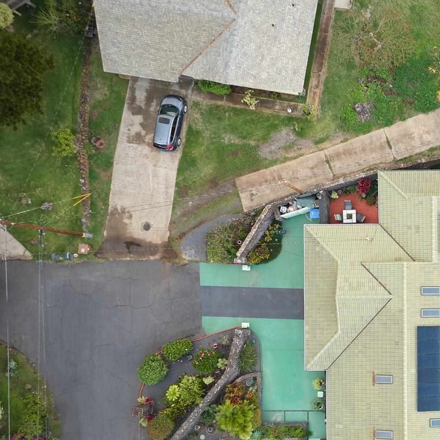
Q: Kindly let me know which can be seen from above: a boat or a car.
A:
car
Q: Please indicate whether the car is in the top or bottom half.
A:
top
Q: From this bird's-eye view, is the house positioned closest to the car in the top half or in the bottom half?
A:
top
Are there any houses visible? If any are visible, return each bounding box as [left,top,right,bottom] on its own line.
[303,170,440,440]
[90,0,319,96]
